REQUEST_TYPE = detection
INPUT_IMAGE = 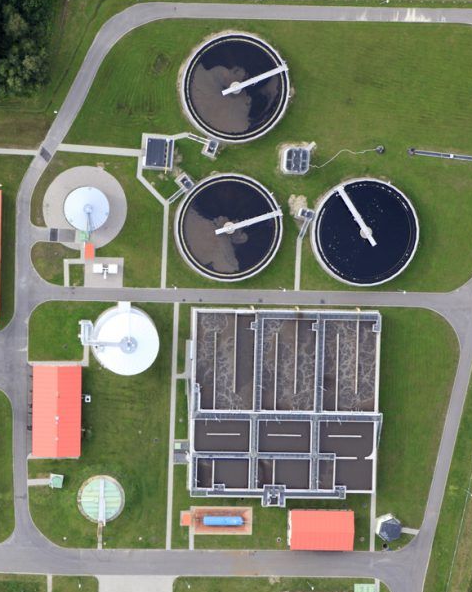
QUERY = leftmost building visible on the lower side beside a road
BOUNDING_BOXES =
[29,366,85,458]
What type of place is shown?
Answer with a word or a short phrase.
industrial area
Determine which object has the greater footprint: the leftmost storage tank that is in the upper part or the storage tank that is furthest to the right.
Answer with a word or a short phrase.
the storage tank that is furthest to the right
